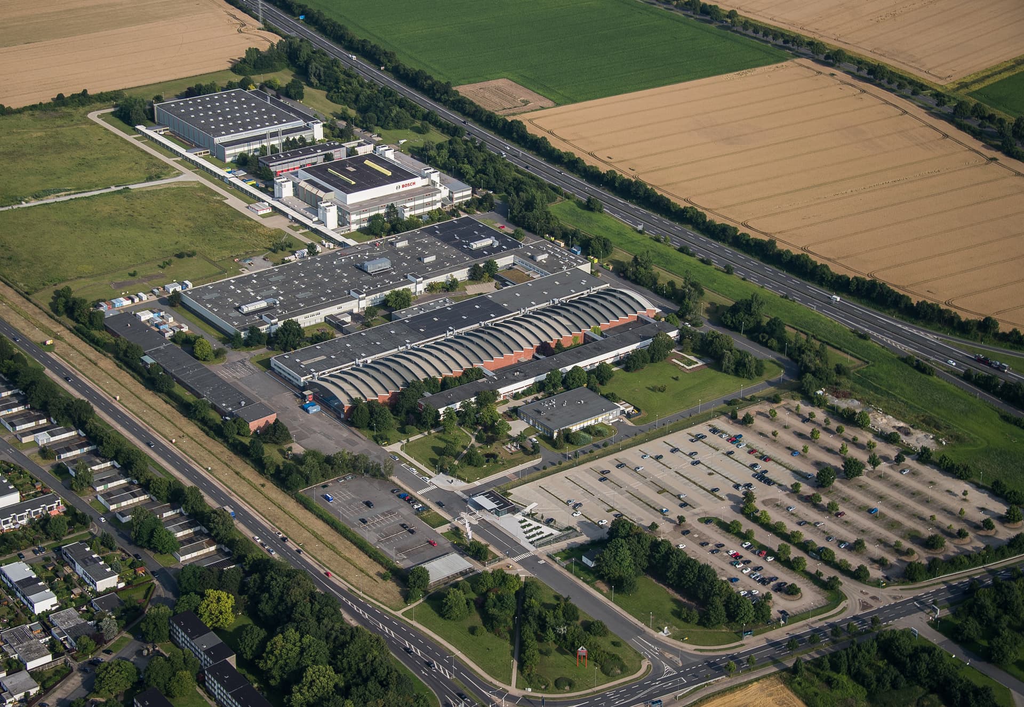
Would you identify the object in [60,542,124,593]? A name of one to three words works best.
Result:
house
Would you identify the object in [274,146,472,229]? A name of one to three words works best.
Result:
building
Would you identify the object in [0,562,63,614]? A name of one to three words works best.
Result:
house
